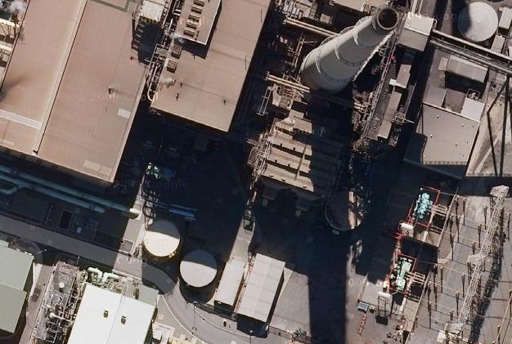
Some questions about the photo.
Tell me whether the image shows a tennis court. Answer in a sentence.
No, this view has no tennis court in it.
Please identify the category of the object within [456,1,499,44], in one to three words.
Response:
storage tank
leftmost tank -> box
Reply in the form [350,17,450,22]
[143,219,181,259]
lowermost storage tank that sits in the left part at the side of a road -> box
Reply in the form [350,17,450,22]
[179,249,217,289]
